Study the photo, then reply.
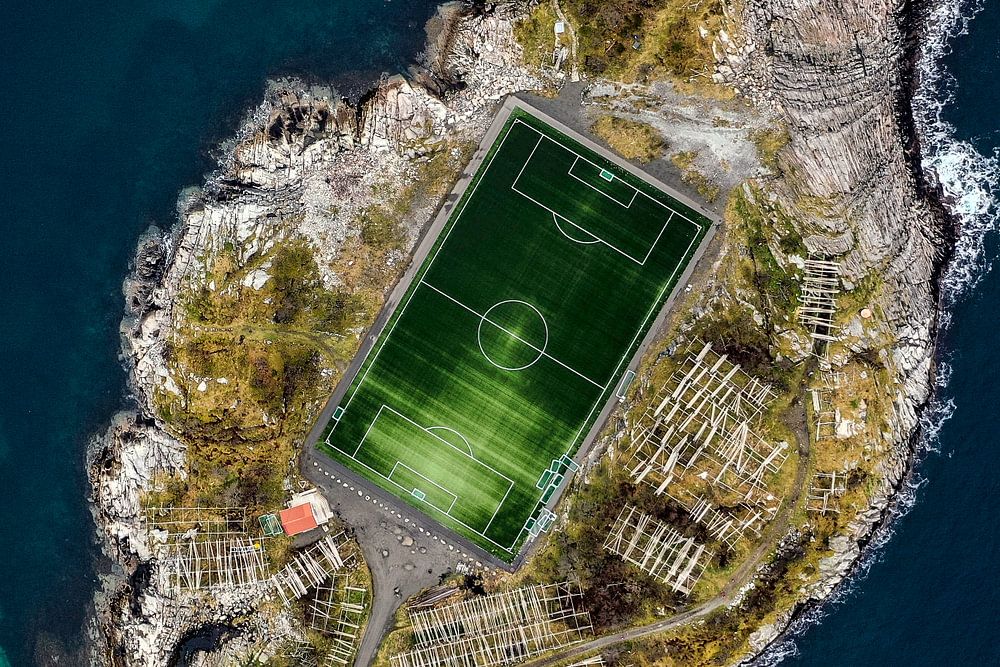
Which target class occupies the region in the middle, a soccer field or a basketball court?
soccer field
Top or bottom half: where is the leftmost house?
bottom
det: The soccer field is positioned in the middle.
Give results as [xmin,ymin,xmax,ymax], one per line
[311,97,720,572]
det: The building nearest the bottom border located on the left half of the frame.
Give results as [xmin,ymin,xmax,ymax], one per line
[281,502,318,535]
